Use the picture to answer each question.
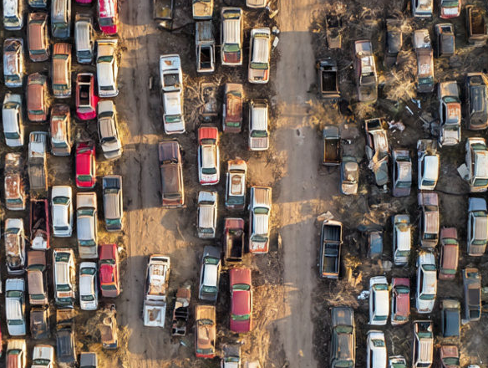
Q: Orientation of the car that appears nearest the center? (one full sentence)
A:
Seen from above, the car that appears nearest the center lies up and down.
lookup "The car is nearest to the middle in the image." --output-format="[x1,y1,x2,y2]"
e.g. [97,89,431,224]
[226,160,247,210]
